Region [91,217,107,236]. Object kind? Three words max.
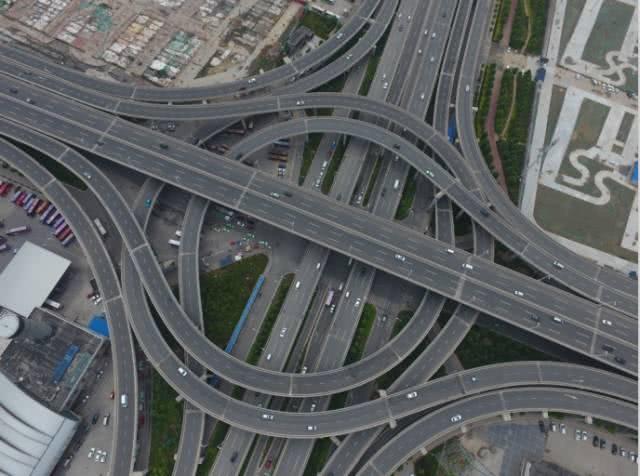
vehicle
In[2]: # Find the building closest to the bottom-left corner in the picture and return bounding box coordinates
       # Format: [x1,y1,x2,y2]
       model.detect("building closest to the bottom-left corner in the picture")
[0,374,89,476]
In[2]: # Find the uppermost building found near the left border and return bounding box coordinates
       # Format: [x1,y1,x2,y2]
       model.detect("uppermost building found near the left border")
[0,241,76,318]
